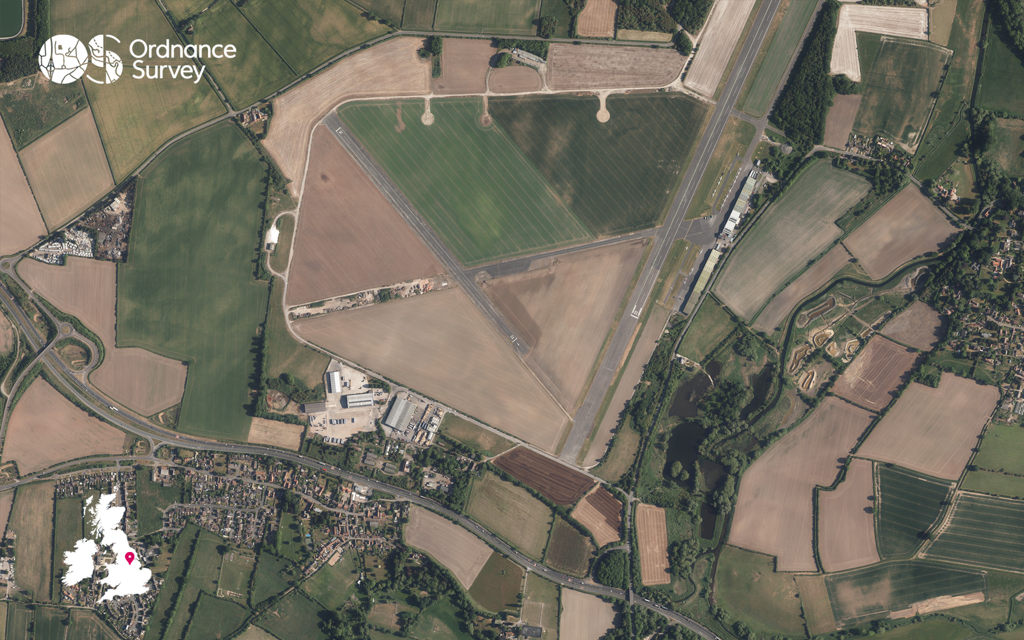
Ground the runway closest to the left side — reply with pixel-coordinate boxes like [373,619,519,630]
[322,112,532,358]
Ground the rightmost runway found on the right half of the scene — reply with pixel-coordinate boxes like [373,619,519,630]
[568,0,782,466]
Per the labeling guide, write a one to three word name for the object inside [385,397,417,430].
building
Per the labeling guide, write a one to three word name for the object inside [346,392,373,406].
building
